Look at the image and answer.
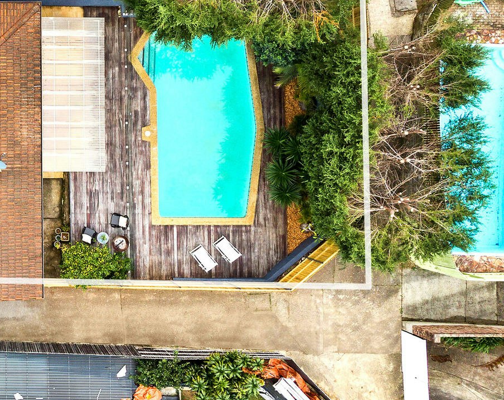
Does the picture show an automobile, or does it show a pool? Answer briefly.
pool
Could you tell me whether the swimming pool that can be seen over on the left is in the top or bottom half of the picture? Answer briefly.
top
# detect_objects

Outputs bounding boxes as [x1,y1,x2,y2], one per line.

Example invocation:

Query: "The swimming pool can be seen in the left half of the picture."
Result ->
[132,27,265,225]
